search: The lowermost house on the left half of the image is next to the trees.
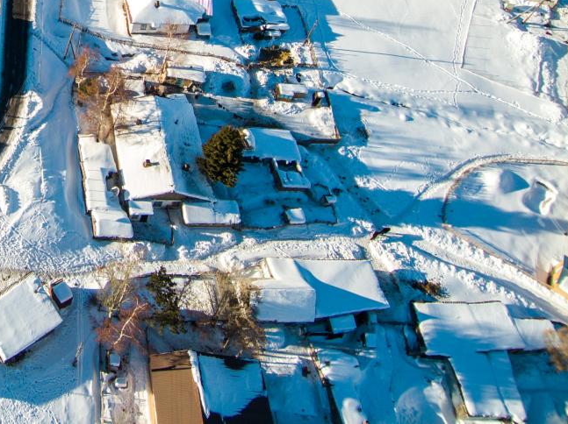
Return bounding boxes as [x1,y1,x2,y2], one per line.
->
[148,348,268,424]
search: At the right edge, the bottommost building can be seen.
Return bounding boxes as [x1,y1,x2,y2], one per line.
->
[399,298,560,424]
